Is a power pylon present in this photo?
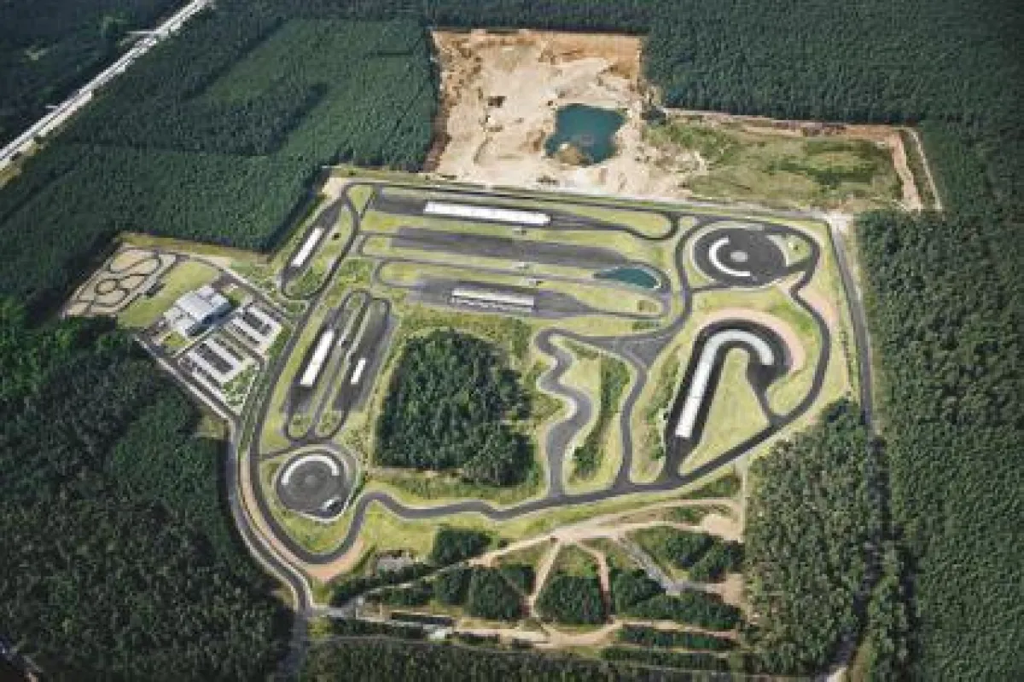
No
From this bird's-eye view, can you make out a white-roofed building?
Yes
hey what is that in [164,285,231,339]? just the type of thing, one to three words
building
